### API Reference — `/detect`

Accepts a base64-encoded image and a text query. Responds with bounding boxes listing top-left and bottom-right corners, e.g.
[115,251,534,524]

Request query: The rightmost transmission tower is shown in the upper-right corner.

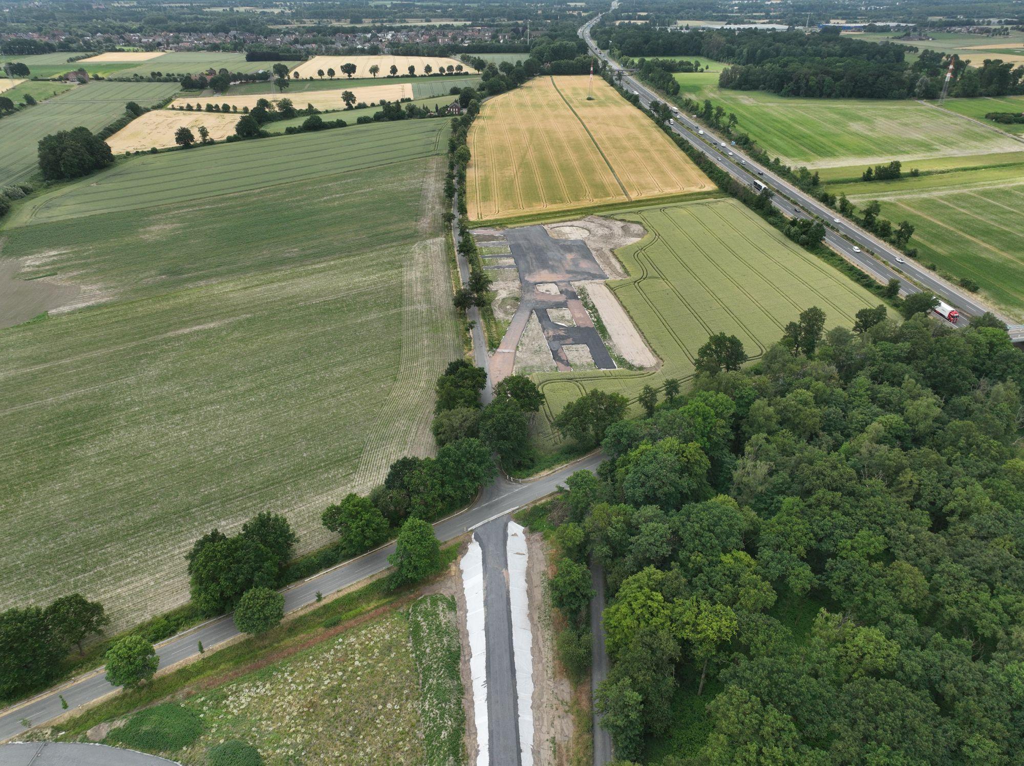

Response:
[936,47,959,105]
